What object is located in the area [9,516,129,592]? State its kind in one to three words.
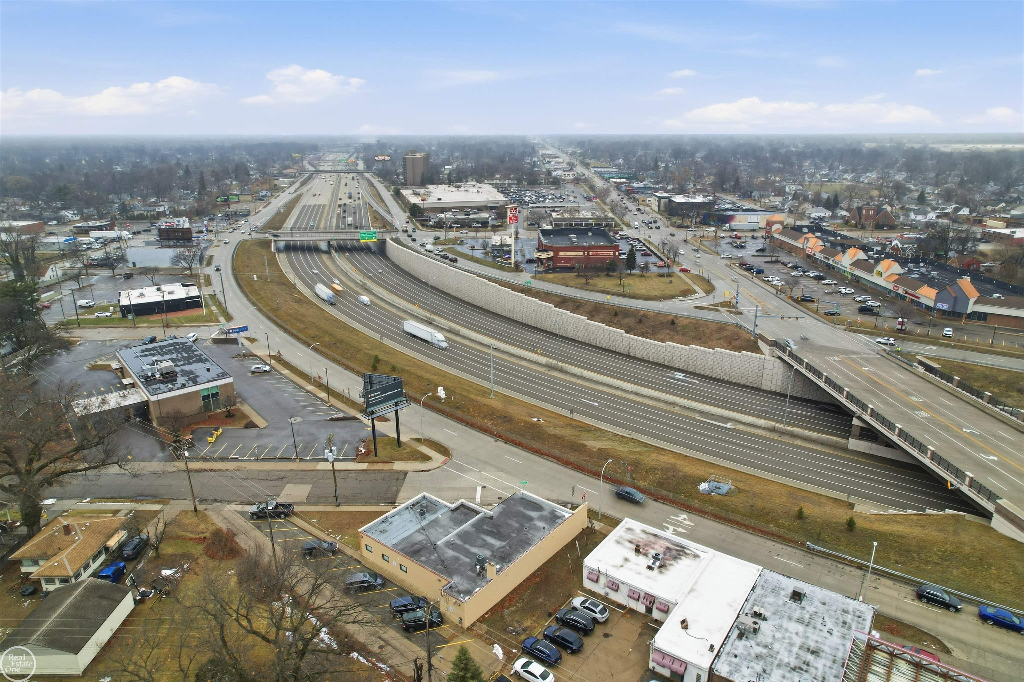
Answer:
house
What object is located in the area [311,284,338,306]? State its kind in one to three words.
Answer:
truck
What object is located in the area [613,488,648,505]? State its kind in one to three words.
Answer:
car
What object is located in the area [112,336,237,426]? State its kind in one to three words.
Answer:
building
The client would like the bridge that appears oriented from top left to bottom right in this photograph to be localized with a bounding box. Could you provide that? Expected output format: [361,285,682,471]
[758,332,1024,559]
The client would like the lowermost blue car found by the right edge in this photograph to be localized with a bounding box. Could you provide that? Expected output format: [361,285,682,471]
[976,606,1024,637]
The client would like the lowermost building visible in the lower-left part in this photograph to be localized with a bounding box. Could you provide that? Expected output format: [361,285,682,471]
[0,575,136,675]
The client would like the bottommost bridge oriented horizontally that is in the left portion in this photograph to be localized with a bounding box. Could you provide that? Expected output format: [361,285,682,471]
[270,226,393,260]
